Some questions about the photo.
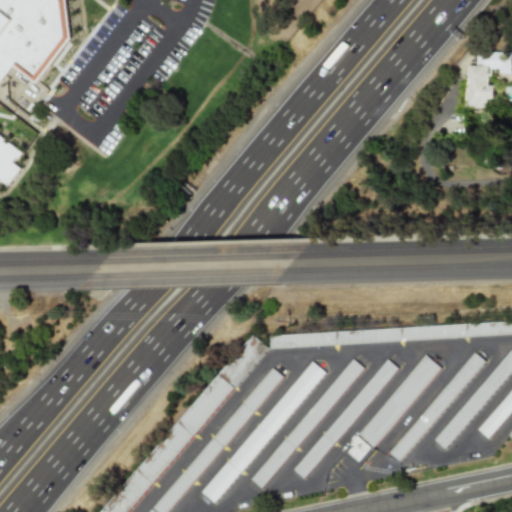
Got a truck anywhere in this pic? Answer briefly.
Yes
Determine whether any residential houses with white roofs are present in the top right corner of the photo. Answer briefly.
Yes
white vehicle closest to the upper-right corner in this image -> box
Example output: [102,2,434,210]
[434,10,448,26]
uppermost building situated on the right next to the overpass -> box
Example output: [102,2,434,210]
[271,322,512,350]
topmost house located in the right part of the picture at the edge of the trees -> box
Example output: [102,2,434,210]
[478,50,512,76]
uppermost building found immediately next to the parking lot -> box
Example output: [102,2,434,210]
[0,0,70,86]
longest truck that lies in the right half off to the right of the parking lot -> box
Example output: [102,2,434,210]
[320,40,350,78]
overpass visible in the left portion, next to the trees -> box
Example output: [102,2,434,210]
[80,238,312,290]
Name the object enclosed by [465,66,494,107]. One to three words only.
house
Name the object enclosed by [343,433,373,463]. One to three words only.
building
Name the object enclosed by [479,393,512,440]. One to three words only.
building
